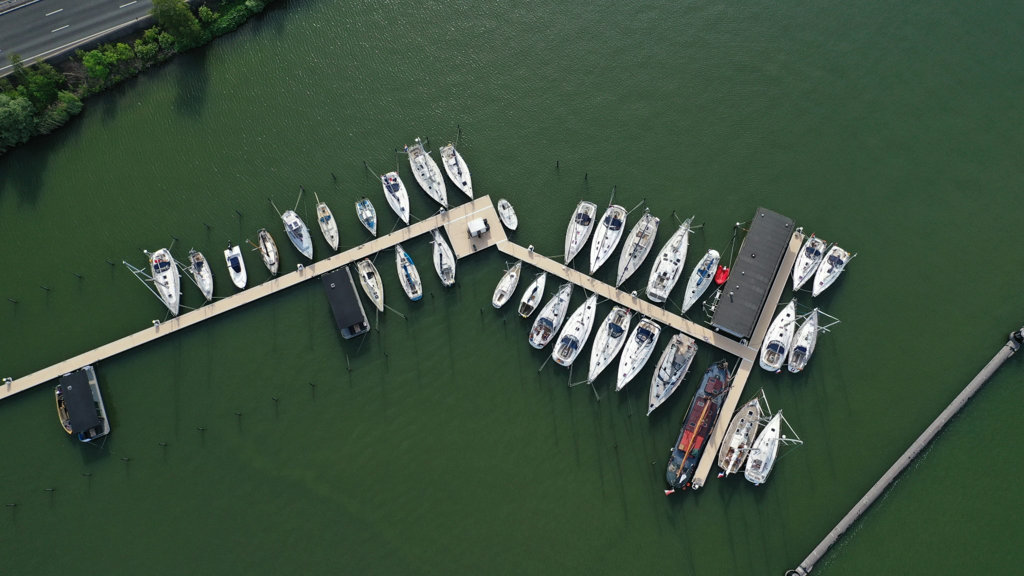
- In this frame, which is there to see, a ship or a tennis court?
ship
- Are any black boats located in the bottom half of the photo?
Yes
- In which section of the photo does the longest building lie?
right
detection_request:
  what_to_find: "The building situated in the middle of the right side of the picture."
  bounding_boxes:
[704,206,796,341]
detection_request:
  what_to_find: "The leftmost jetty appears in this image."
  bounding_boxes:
[692,358,752,486]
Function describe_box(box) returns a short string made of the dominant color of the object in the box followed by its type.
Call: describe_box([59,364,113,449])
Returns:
black boat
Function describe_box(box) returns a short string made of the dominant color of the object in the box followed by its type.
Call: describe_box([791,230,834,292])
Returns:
white boat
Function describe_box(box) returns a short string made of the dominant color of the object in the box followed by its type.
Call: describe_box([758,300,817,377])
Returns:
white boat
